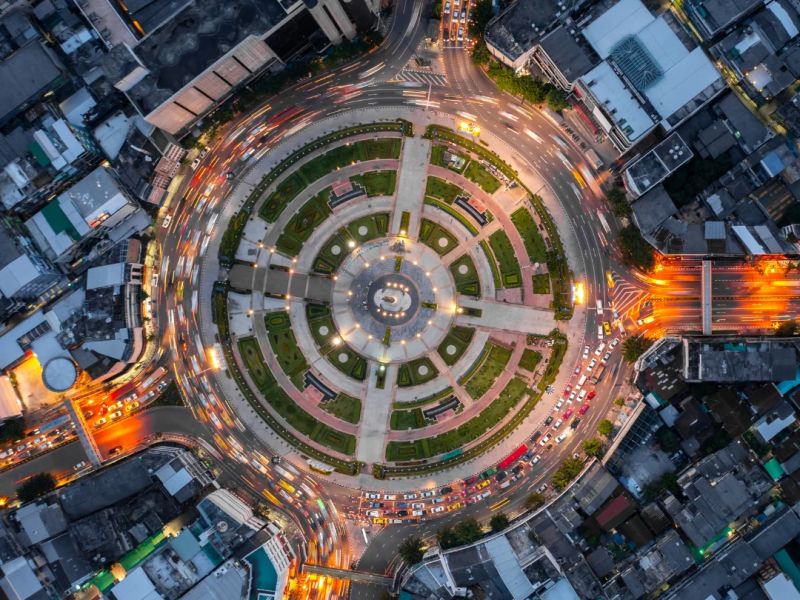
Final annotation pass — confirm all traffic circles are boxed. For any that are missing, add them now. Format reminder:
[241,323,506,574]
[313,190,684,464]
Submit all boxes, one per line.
[145,45,647,539]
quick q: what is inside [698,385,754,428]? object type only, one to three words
house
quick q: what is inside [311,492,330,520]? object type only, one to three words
vehicle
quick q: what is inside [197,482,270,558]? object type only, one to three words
building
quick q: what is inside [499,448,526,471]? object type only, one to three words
bus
